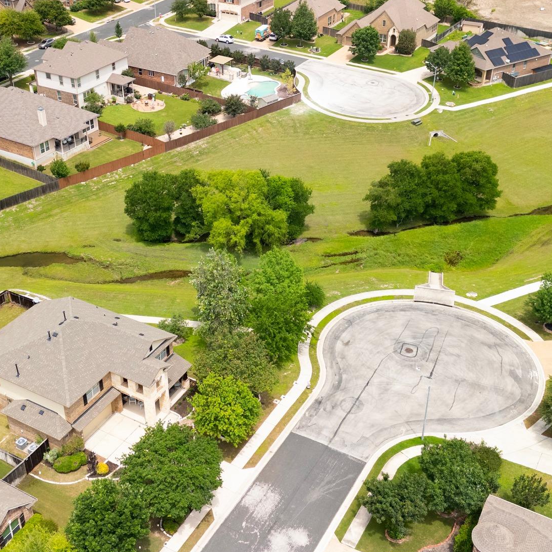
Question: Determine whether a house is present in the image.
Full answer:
Yes, a house can be made out from above.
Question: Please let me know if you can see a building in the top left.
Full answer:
Yes, you'll find a building in the top left.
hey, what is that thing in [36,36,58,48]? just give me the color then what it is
gray vehicle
